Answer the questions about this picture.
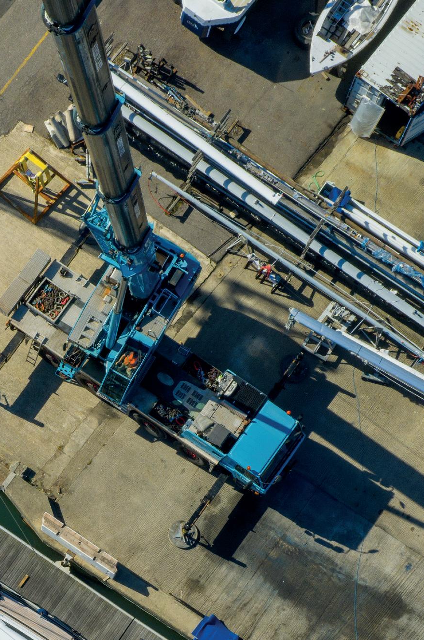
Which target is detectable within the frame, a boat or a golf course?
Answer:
boat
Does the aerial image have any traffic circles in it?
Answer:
No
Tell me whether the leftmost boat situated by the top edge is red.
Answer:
No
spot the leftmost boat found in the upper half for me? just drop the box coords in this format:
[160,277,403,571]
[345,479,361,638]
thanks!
[182,0,257,38]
